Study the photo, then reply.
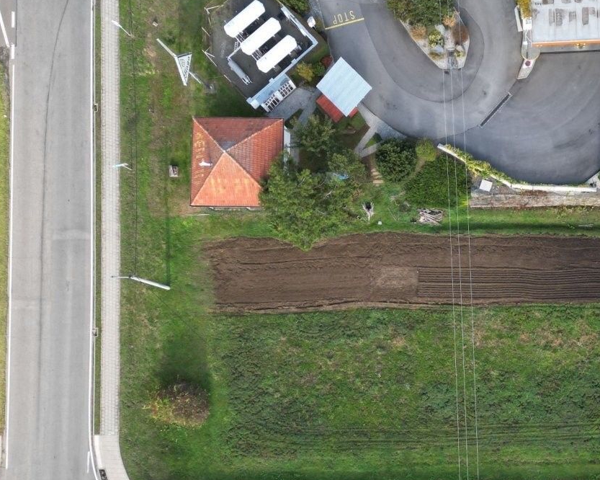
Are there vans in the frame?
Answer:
No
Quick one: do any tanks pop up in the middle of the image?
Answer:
No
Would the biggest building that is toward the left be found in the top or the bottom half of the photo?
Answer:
top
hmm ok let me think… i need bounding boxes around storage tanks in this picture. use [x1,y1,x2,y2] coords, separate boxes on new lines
[223,1,267,36]
[240,19,284,52]
[256,36,299,69]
